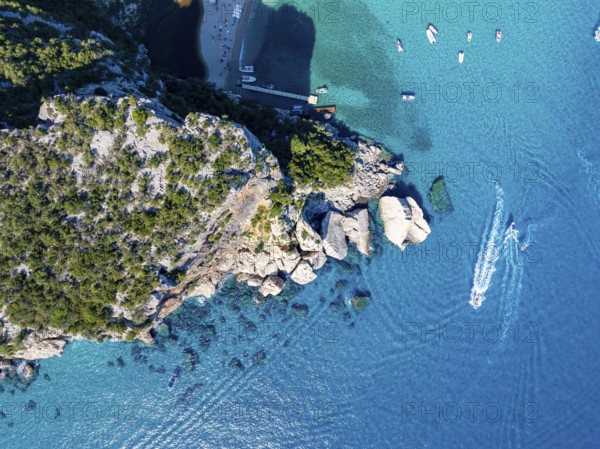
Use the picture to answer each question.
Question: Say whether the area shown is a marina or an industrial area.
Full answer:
The picture captures a marina.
